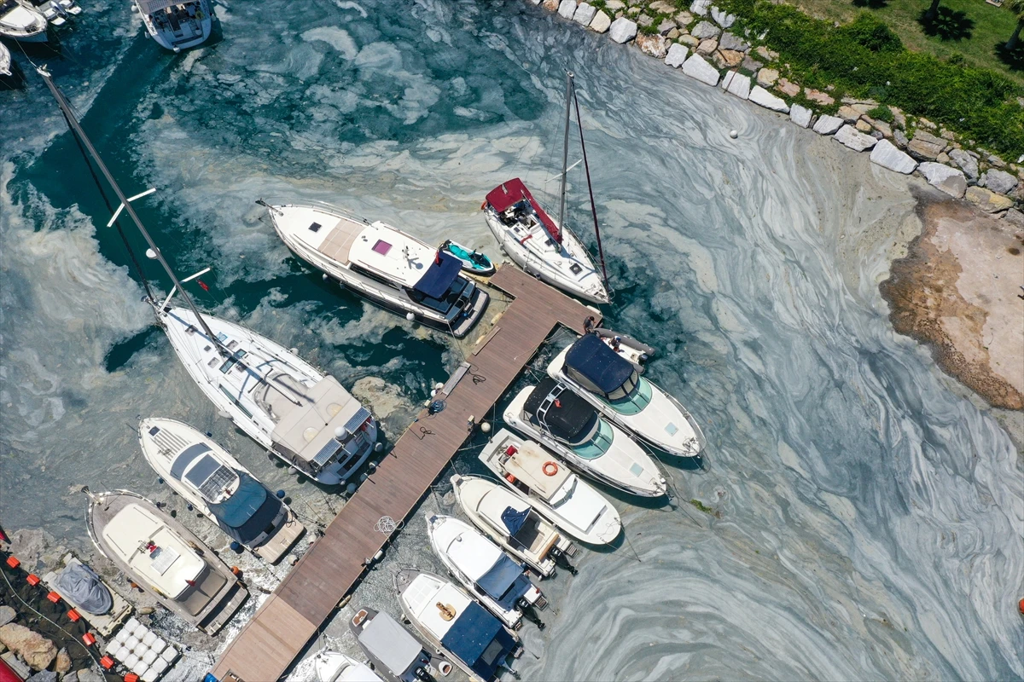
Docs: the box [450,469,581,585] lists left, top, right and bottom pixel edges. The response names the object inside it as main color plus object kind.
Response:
white boat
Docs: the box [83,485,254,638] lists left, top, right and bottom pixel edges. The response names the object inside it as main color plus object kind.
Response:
white boat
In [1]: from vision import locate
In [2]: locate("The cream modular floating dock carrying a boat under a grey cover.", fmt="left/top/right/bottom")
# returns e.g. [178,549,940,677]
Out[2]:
[47,543,134,646]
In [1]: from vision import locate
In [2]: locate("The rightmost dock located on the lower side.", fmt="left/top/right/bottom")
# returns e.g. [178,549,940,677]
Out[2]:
[207,261,603,682]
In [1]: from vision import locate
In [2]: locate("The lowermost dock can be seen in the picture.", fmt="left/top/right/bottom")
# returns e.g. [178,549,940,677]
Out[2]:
[104,616,181,682]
